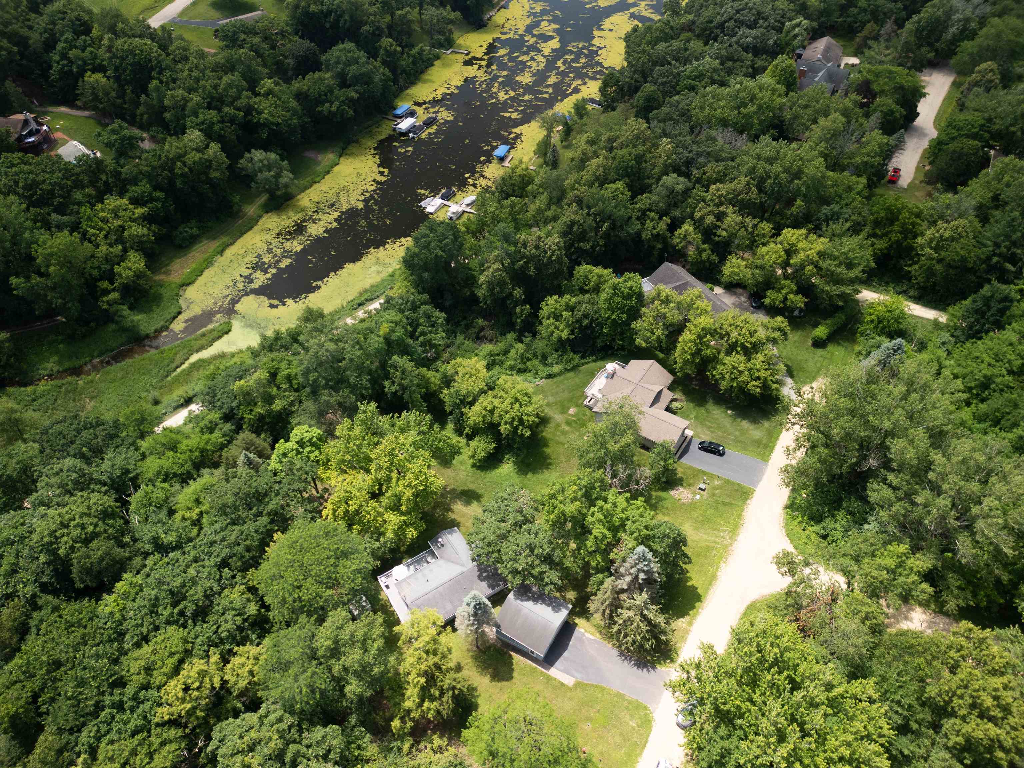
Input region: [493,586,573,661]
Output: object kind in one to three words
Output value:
building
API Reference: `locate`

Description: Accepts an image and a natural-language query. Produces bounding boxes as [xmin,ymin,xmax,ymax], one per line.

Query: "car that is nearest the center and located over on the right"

[698,442,726,458]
